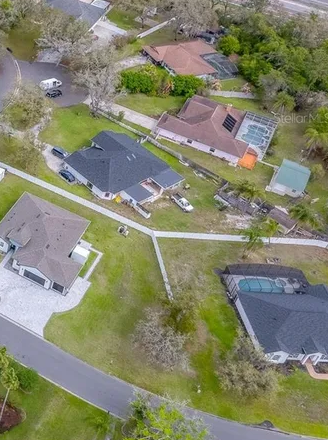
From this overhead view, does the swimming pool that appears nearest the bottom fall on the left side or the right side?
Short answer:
right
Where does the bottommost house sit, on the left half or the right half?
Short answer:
right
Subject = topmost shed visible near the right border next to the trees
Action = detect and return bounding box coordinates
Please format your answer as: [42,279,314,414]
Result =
[273,154,314,200]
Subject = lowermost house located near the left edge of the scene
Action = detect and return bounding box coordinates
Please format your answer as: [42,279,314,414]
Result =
[0,191,90,303]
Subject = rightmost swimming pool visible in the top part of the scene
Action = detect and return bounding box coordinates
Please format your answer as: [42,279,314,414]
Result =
[235,120,274,168]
